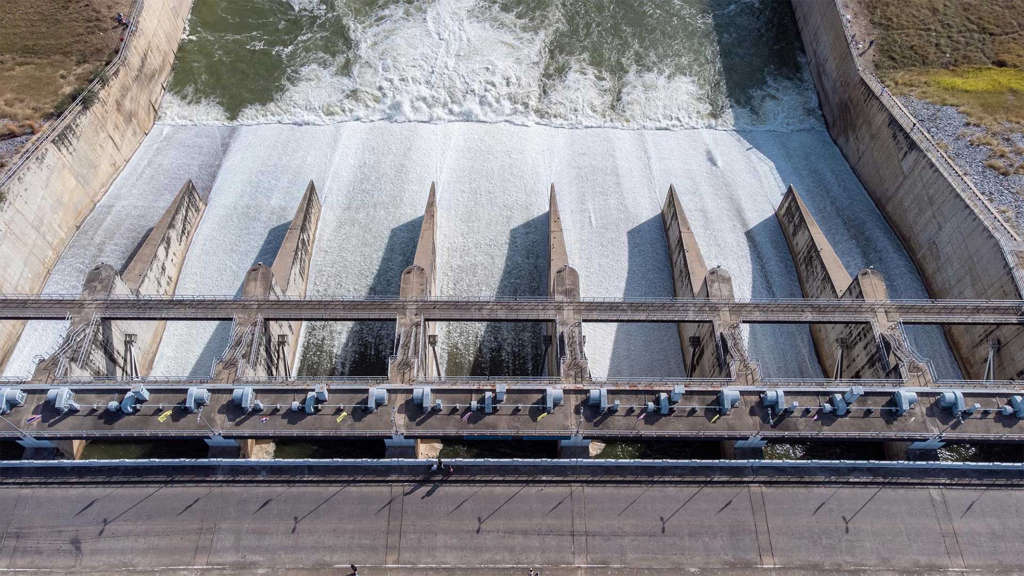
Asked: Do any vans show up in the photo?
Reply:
No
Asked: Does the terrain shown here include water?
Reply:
Yes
